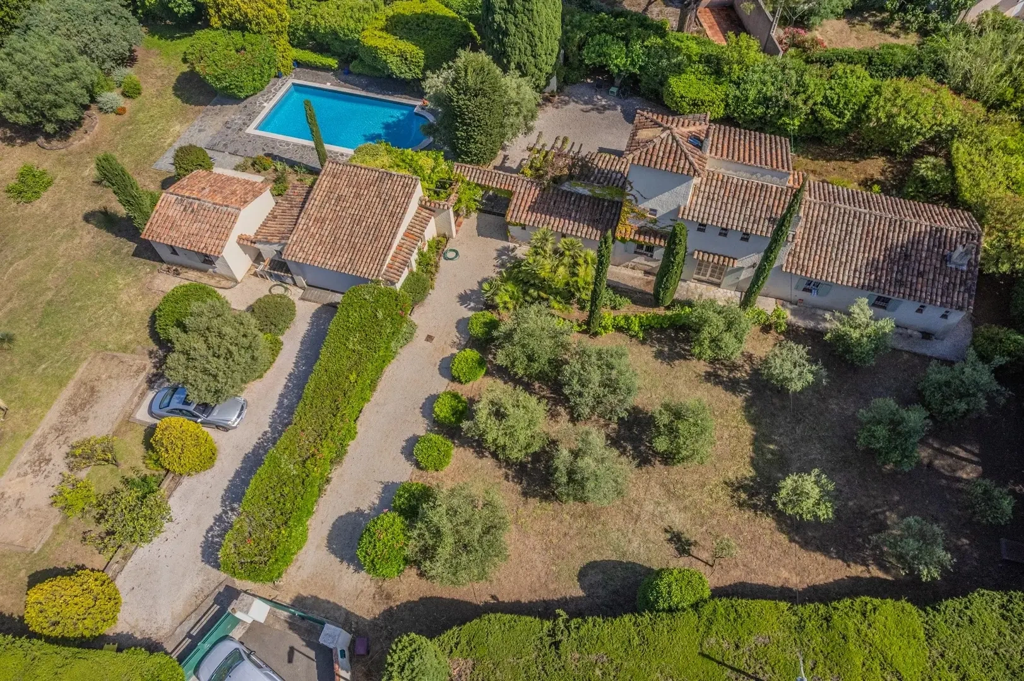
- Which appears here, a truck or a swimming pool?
swimming pool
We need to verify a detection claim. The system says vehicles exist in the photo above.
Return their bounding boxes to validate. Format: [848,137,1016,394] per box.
[197,641,271,681]
[143,388,255,437]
